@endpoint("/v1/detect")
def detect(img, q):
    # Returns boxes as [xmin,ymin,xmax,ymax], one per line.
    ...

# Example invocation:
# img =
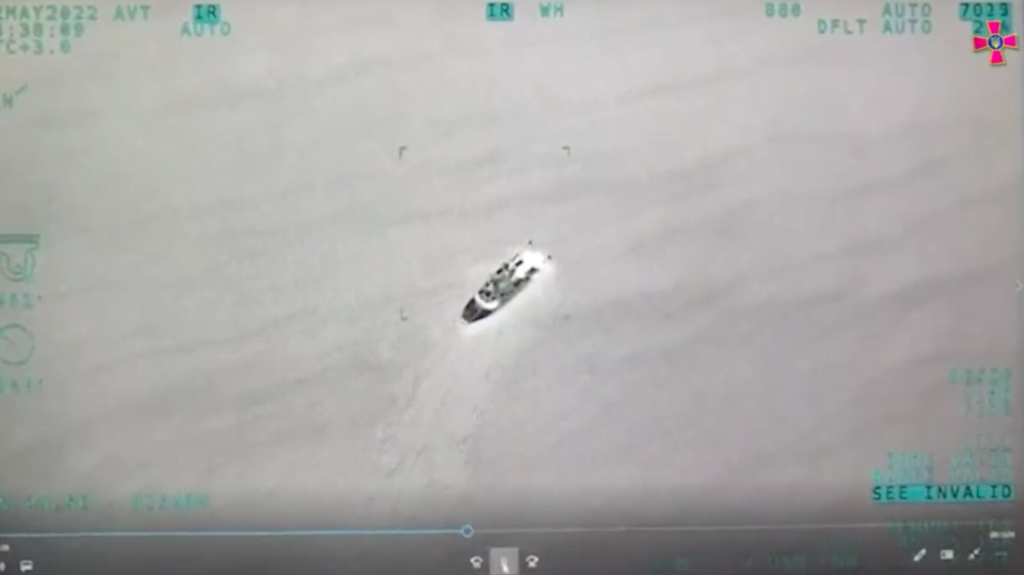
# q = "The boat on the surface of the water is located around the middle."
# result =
[461,243,550,323]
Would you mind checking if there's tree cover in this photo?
No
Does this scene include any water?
Yes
